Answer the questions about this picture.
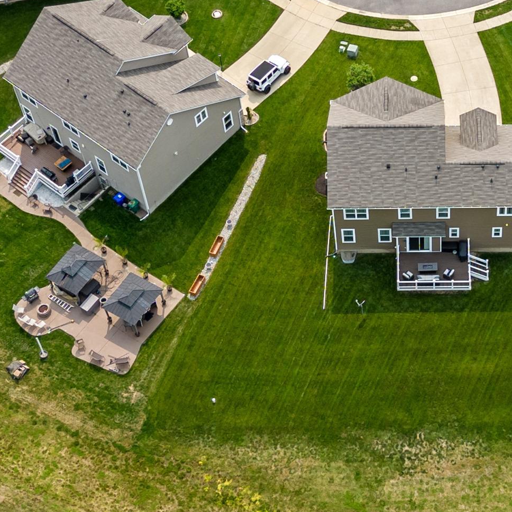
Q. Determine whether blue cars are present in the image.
No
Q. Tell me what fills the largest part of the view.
grass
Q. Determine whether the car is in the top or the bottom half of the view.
top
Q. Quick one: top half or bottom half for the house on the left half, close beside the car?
top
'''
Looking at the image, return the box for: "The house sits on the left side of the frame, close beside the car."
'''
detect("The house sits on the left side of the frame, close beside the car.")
[4,0,248,217]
